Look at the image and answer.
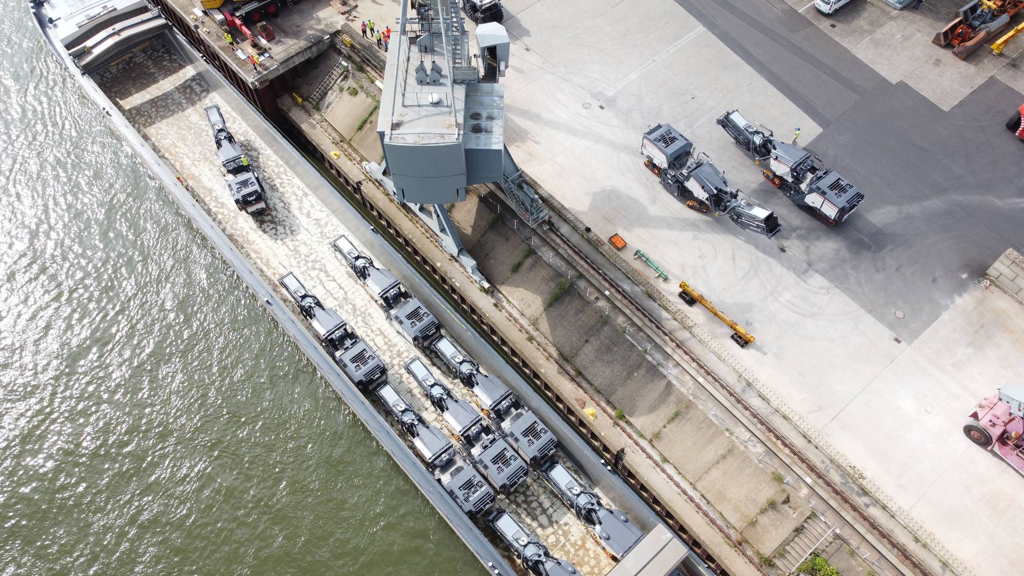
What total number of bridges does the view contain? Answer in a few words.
0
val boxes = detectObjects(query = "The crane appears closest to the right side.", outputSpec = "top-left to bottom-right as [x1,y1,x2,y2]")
[356,0,564,302]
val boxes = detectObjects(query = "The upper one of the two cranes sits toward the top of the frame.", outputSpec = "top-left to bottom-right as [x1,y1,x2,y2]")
[189,0,275,44]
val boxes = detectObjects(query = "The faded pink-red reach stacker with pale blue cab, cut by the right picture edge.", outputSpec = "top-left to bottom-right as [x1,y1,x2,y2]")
[961,376,1024,473]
